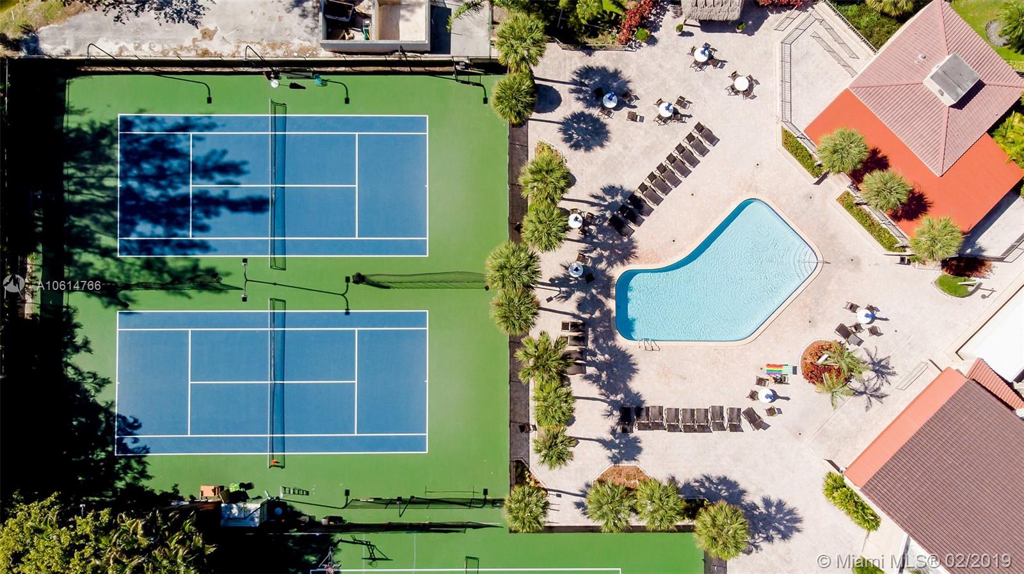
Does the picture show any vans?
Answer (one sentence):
No, there isn't any van down there.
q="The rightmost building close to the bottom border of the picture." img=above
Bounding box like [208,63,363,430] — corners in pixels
[842,367,1024,574]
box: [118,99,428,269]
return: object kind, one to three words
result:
tennis court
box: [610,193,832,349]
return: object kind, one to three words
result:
swimming pool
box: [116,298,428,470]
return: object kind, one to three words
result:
tennis court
